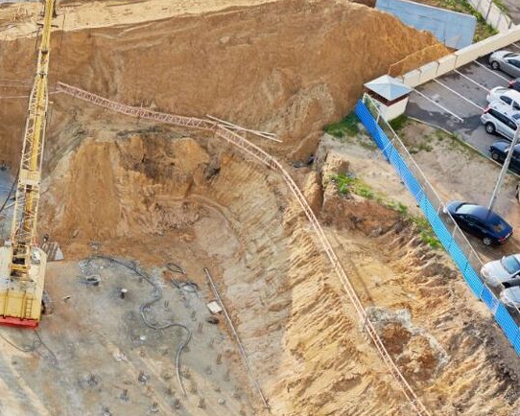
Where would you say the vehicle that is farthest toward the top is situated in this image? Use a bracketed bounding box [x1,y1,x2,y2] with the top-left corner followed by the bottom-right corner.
[486,47,520,74]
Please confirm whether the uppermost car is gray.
Yes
